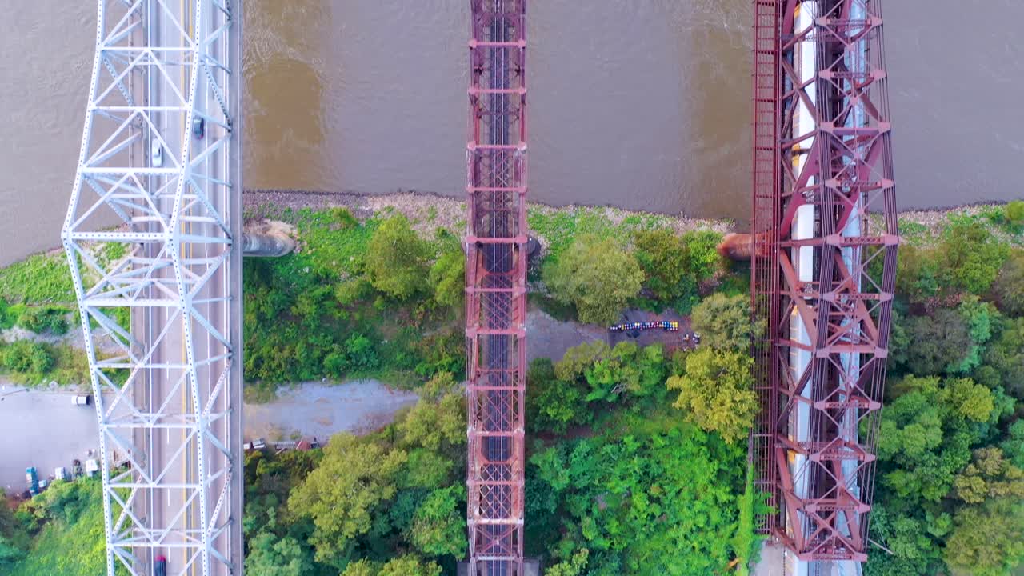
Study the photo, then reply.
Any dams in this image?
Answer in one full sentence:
No, there's no dam here.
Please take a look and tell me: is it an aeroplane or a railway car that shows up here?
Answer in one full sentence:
Of the two, only a railway car appears.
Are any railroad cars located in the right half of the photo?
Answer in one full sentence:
Yes, the scene does show a railroad car in the right half of the photo.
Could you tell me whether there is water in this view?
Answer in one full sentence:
Yes, water shows up in the scene.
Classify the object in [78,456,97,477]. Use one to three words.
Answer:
vehicle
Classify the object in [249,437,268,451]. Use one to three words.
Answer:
vehicle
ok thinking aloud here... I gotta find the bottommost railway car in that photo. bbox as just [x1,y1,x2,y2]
[784,448,810,576]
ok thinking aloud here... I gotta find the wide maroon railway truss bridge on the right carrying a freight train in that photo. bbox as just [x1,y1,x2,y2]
[716,0,899,576]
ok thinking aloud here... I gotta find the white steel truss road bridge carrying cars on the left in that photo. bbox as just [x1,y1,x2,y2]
[58,0,291,576]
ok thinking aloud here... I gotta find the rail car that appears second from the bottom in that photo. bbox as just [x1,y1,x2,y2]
[787,303,814,450]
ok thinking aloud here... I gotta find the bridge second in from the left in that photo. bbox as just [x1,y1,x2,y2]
[461,0,537,576]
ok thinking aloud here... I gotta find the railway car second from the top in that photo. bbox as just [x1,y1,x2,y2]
[790,152,816,302]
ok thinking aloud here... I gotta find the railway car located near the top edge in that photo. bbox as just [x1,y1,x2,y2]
[793,0,820,153]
